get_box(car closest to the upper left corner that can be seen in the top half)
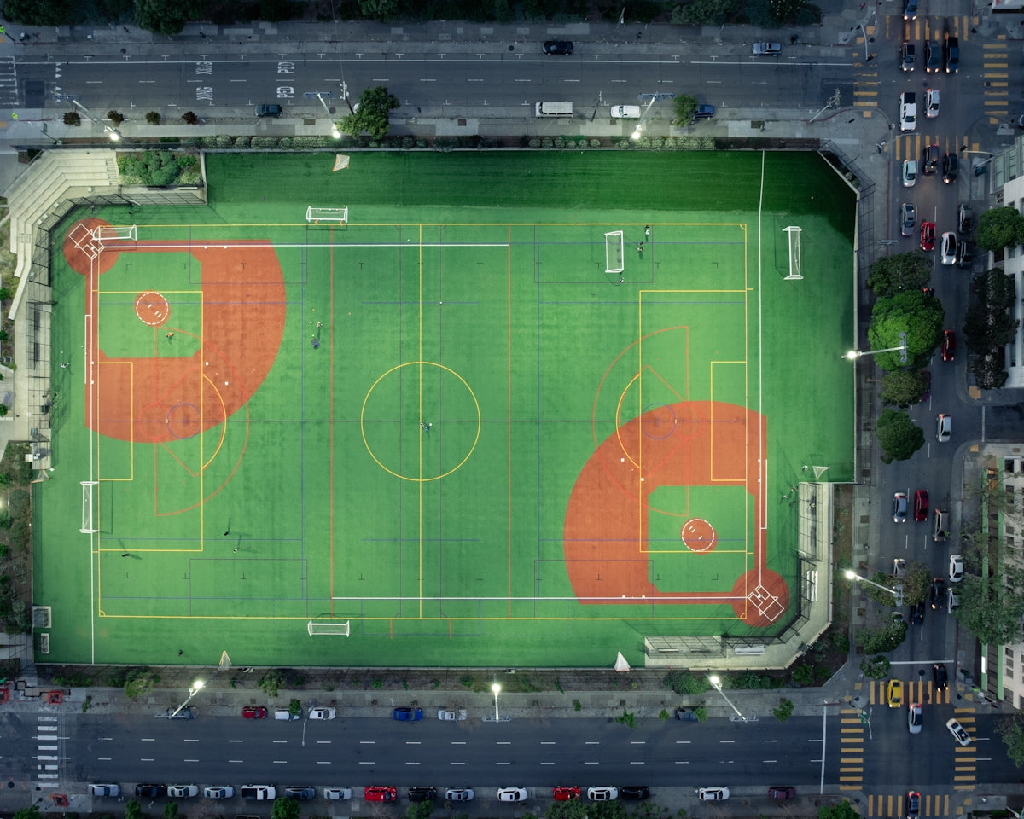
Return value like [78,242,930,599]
[255,104,284,119]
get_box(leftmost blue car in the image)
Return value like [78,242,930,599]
[89,781,122,798]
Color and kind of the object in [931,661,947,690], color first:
black car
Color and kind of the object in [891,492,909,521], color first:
blue car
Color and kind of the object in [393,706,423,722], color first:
blue car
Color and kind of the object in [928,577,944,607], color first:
black car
